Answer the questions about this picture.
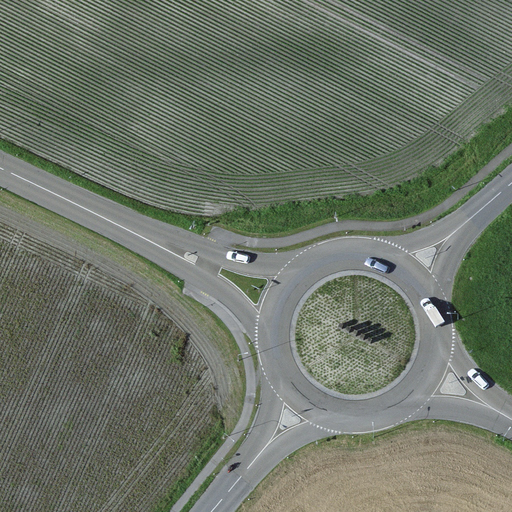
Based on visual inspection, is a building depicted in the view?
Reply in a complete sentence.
No, no building is visible in the view.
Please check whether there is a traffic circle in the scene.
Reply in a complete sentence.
Yes, a traffic circle is visible in the scene.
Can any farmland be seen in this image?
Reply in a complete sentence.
Yes, farmland shows up in the scene.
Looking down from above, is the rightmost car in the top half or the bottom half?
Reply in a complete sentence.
It is in the bottom half that the rightmost car appears.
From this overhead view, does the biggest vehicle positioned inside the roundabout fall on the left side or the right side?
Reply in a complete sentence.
You can find the biggest vehicle positioned inside the roundabout on the right side of the picture.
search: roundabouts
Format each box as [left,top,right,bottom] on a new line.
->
[255,236,455,434]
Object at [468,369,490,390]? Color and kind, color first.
white car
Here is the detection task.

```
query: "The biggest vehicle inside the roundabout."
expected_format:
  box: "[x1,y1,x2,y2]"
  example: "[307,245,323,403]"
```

[421,298,445,328]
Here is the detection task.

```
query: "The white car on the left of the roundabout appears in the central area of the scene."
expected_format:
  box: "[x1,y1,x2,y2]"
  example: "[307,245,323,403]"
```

[226,251,250,263]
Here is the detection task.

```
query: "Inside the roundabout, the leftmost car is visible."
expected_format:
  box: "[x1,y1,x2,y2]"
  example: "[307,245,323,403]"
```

[366,258,388,273]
